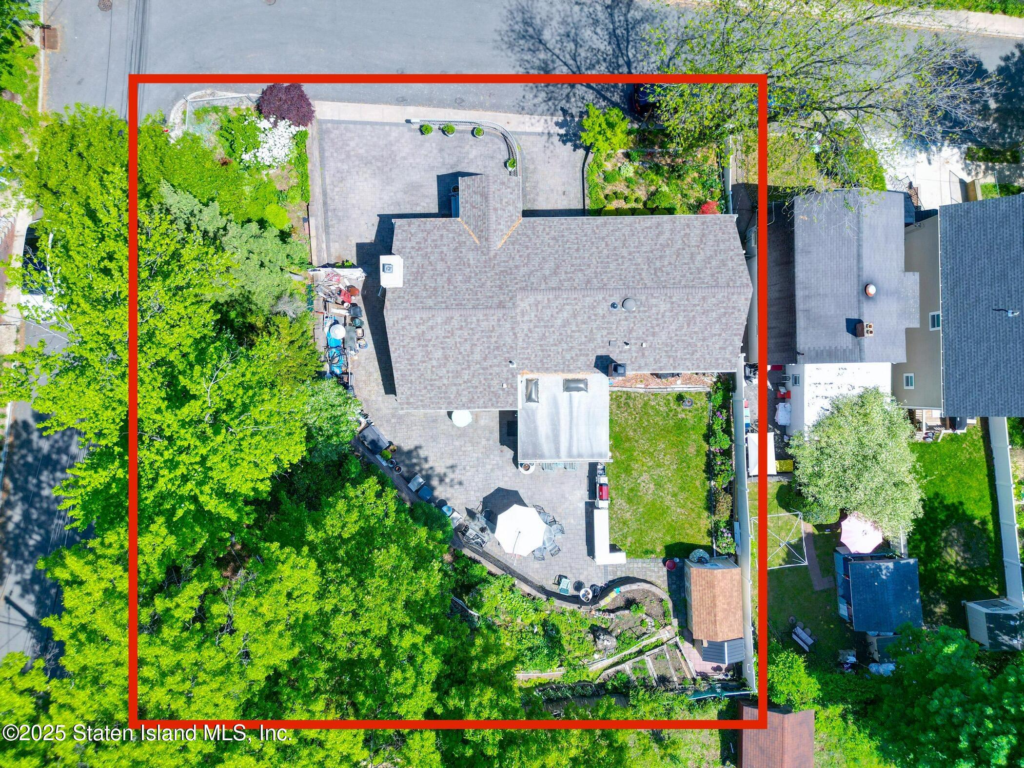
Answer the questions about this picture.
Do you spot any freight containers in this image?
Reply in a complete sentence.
No, I find no freight container anywhere in the image.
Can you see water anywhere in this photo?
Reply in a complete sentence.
No, there is no water in the image.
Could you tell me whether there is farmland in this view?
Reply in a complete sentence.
No, no farmland is visible.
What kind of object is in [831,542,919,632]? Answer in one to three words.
shed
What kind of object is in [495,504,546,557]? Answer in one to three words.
umbrella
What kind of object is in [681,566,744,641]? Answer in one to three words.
shed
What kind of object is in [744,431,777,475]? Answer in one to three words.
tent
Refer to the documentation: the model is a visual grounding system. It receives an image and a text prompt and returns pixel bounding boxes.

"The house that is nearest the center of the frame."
[372,173,752,465]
